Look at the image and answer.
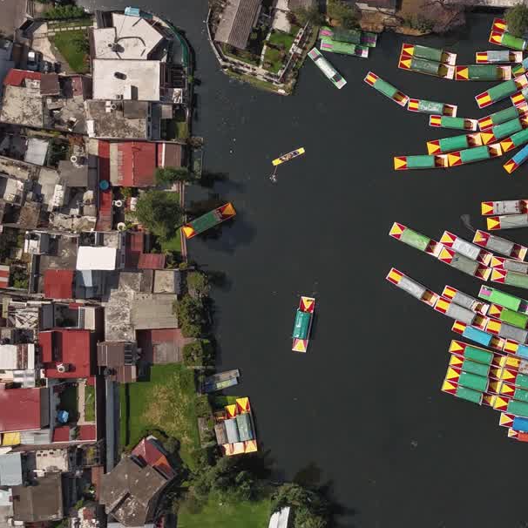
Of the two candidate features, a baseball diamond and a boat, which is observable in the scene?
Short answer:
boat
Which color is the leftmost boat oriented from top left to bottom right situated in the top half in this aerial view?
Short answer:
white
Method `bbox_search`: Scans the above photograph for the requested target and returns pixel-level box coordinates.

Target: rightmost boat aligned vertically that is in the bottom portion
[293,296,314,353]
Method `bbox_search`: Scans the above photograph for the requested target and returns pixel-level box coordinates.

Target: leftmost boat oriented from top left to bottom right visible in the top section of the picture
[308,48,346,88]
